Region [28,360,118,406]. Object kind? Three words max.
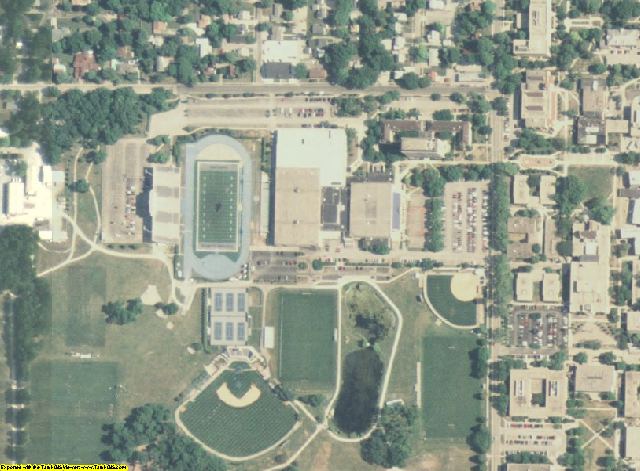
sports field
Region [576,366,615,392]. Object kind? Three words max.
building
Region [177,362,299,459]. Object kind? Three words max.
baseball field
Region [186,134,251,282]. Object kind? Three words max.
running track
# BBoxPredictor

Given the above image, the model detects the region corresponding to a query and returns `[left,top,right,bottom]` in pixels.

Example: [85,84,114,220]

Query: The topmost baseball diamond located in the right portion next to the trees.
[426,274,485,325]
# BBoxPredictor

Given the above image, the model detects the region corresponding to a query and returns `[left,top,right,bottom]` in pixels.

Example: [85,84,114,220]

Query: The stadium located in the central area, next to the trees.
[349,171,400,237]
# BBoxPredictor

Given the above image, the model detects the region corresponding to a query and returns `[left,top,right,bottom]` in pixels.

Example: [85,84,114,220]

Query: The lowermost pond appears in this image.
[334,348,384,434]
